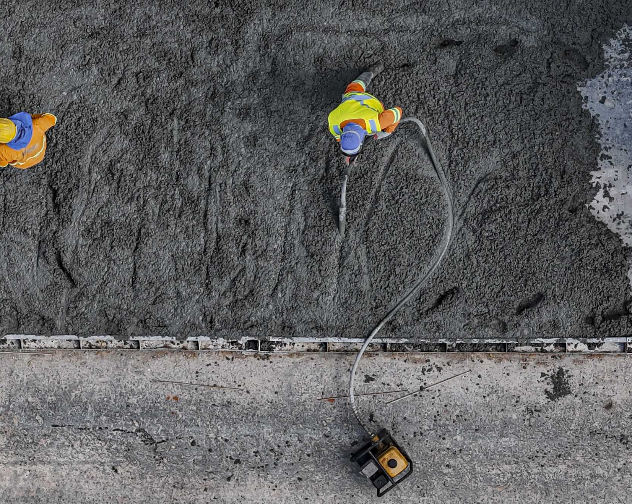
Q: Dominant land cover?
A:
paved ground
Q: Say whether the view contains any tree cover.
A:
No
